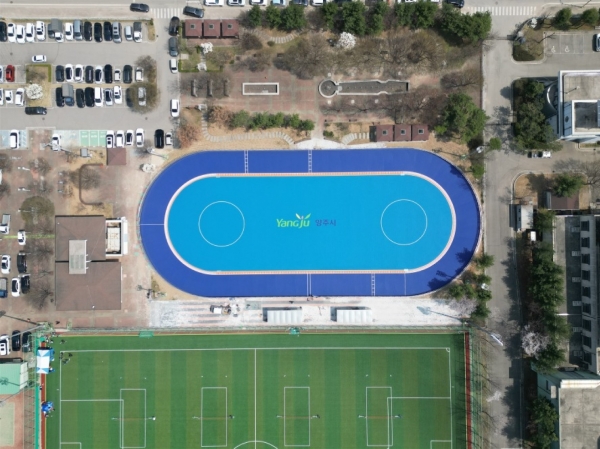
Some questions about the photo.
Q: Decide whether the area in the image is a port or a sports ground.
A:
sports ground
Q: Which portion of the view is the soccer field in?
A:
bottom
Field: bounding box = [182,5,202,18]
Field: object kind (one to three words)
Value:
vehicle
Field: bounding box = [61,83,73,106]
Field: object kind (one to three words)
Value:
vehicle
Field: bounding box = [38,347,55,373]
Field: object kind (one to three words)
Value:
tent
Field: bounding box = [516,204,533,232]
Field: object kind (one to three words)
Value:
building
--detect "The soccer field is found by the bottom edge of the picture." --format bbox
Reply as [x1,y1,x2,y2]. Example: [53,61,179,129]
[40,331,471,449]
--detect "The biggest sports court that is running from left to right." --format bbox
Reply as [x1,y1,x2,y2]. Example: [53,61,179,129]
[137,147,483,300]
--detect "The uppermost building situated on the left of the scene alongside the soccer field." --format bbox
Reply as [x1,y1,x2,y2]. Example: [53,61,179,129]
[54,215,132,312]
